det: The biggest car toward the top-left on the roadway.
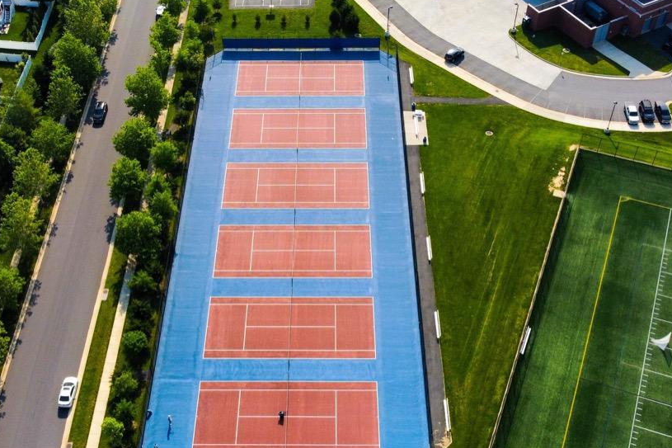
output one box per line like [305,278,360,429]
[92,100,109,123]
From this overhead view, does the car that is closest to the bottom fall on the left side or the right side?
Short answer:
left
